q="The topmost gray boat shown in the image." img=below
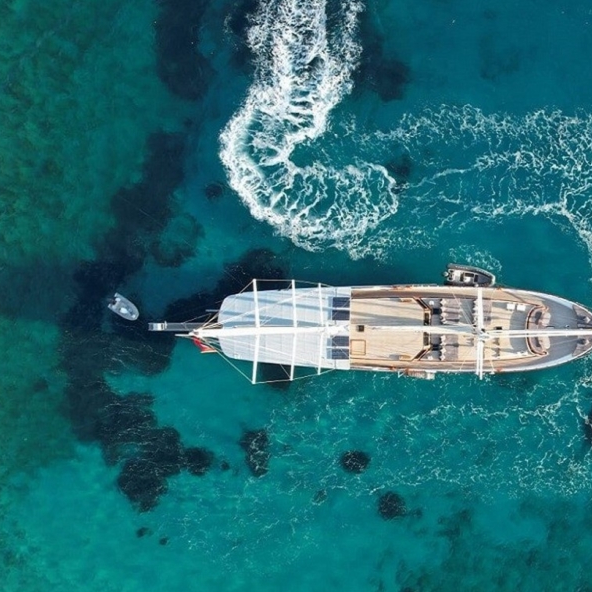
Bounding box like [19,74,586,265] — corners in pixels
[444,265,495,286]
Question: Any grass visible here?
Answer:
No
